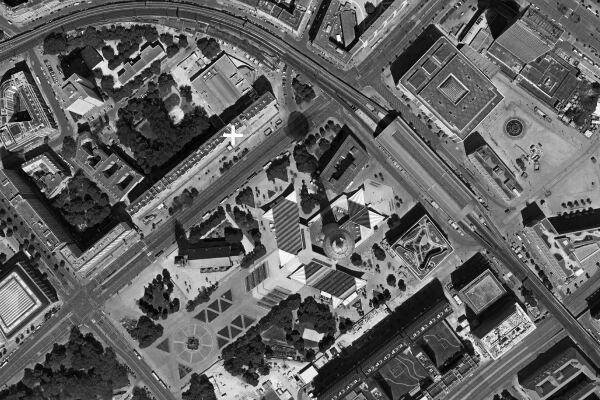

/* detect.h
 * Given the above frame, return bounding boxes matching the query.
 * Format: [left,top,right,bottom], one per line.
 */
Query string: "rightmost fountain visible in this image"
[504,118,523,136]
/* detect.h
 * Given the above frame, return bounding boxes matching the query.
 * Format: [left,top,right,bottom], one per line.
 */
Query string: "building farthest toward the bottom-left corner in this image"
[0,262,59,339]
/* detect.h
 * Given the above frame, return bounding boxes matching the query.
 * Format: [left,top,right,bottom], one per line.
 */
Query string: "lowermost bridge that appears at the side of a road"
[457,204,600,372]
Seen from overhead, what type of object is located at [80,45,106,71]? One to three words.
house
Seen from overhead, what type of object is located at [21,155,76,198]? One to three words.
house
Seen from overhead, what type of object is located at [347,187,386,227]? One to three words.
building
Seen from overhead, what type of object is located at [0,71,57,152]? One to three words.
building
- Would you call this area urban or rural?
urban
